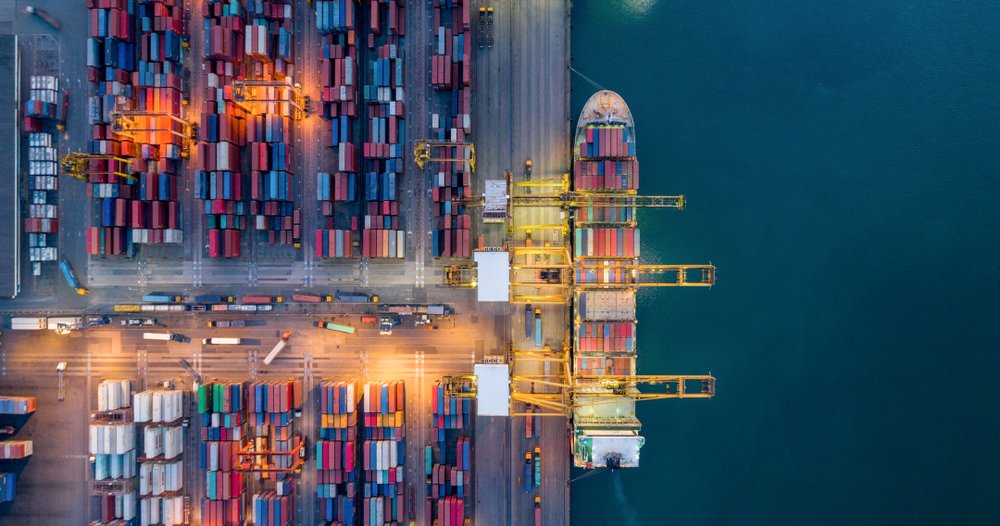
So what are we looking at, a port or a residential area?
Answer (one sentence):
It's a port.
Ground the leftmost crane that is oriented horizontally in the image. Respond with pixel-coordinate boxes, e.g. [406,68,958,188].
[57,153,142,185]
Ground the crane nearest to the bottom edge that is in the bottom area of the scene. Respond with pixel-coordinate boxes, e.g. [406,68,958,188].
[228,433,305,471]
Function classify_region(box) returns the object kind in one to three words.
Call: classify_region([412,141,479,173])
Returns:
crane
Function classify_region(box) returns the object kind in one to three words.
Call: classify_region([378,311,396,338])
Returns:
work vehicle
